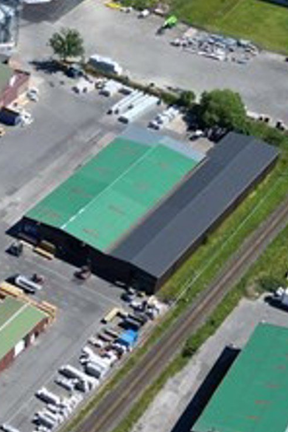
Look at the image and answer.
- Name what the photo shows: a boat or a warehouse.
warehouse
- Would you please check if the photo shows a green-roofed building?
Yes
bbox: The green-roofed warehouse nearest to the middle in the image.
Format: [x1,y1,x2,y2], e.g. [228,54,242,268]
[24,127,202,270]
